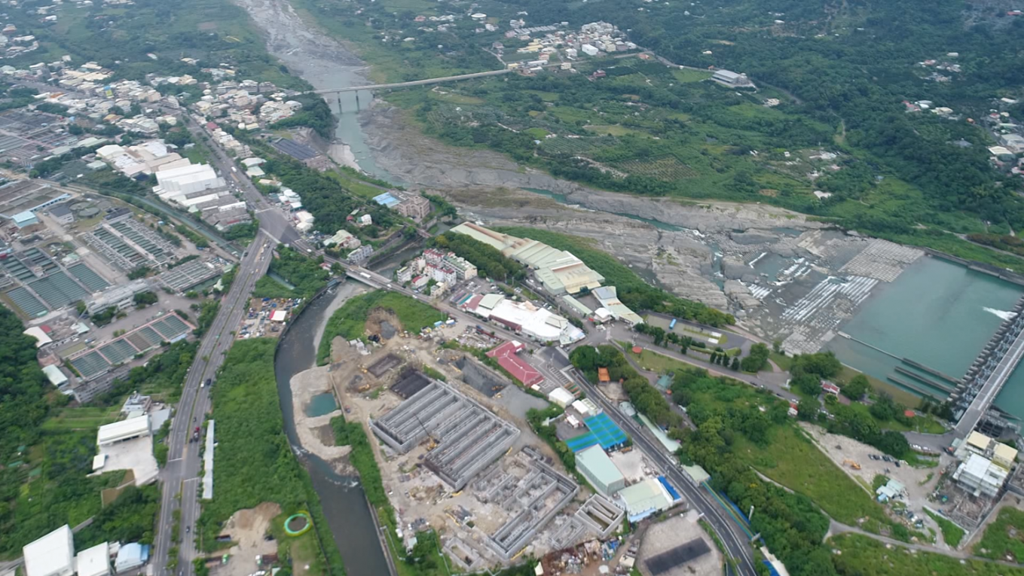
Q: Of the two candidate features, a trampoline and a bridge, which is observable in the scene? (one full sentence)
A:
It is a bridge that can be seen here.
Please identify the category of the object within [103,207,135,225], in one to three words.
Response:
building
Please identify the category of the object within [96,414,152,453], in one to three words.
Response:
shed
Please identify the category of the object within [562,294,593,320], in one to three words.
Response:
shed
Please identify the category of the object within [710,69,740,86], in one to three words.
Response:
house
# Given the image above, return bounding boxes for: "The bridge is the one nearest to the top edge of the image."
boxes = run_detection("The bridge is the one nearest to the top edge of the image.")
[225,67,517,106]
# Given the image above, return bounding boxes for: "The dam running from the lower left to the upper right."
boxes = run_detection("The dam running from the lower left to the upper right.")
[950,297,1024,422]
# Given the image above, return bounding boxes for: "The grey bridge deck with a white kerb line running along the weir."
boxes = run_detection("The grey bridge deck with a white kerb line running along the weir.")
[957,329,1024,439]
